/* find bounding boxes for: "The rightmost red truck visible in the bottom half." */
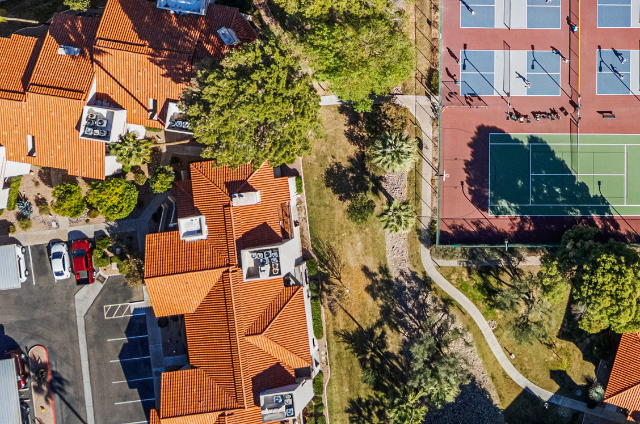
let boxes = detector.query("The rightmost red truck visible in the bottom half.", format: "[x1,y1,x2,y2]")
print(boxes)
[68,241,91,283]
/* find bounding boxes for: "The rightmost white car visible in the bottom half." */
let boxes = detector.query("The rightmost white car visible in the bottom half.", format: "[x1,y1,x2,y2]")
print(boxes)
[45,243,67,280]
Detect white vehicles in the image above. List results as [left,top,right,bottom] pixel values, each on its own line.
[45,243,67,280]
[17,246,30,282]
